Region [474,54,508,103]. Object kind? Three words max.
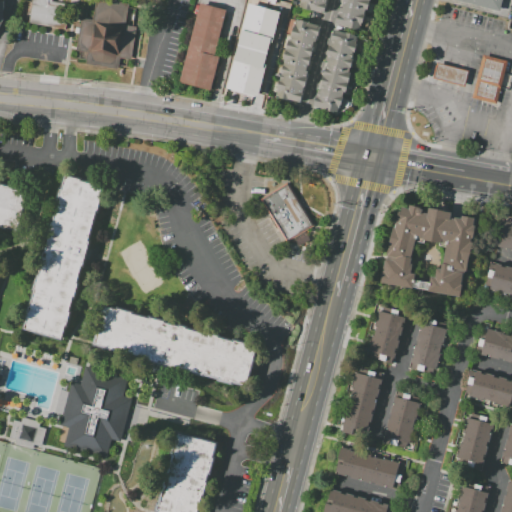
building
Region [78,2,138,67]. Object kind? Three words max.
building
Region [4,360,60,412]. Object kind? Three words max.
swimming pool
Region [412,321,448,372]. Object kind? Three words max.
house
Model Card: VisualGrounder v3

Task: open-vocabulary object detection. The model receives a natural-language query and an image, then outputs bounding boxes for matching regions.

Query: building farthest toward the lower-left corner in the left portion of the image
[10,418,47,449]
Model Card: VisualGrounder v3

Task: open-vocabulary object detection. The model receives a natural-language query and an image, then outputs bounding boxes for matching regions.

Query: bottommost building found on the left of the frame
[154,434,217,512]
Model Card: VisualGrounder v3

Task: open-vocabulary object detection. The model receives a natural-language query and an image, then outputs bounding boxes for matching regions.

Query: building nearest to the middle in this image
[264,184,314,246]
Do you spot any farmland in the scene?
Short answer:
No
